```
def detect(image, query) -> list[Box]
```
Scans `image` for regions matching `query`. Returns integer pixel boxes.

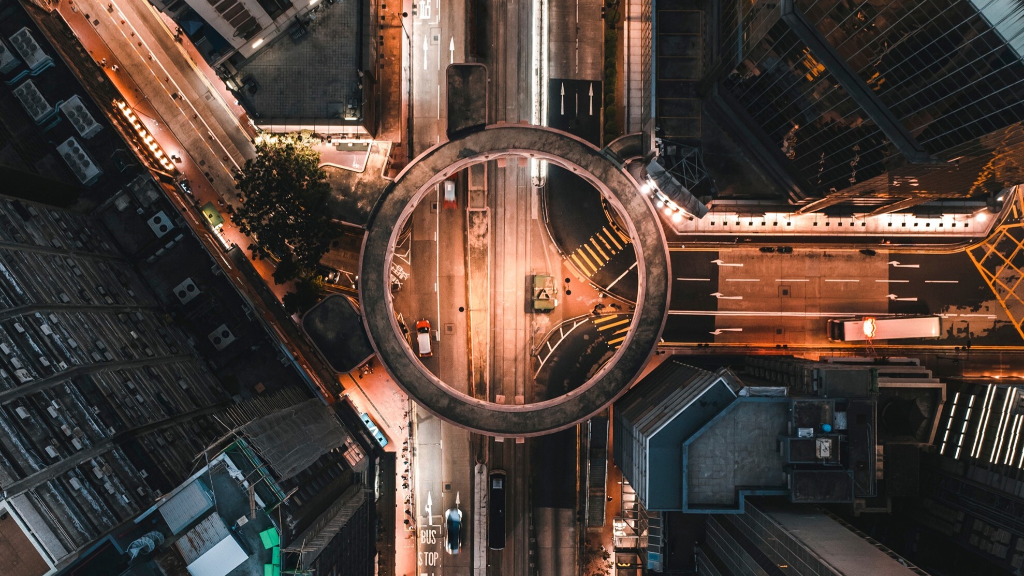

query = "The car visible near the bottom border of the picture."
[444,510,462,553]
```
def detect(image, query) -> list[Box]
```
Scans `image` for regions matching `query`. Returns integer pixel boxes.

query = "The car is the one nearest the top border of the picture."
[442,181,457,211]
